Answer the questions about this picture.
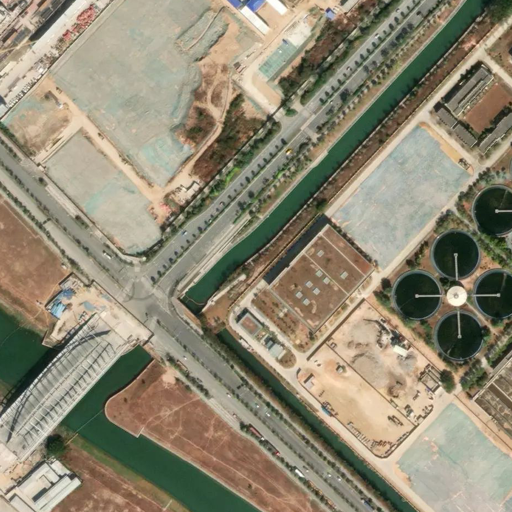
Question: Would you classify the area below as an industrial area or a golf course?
industrial area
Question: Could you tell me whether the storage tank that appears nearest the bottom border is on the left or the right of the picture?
right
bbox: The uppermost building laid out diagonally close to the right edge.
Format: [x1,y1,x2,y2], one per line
[445,67,494,116]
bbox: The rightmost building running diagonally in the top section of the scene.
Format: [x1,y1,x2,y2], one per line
[480,115,512,154]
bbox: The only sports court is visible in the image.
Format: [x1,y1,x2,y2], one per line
[259,37,301,79]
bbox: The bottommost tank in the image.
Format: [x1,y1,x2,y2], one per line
[434,310,484,360]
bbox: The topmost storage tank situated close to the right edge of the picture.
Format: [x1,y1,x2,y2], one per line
[472,186,512,236]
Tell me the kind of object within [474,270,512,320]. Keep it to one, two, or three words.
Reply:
storage tank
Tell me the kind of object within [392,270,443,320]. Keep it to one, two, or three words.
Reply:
storage tank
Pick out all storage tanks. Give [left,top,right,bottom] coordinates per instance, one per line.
[431,230,481,280]
[474,270,512,320]
[434,310,484,360]
[472,186,512,236]
[392,270,443,320]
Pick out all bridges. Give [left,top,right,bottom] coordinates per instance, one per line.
[0,312,129,462]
